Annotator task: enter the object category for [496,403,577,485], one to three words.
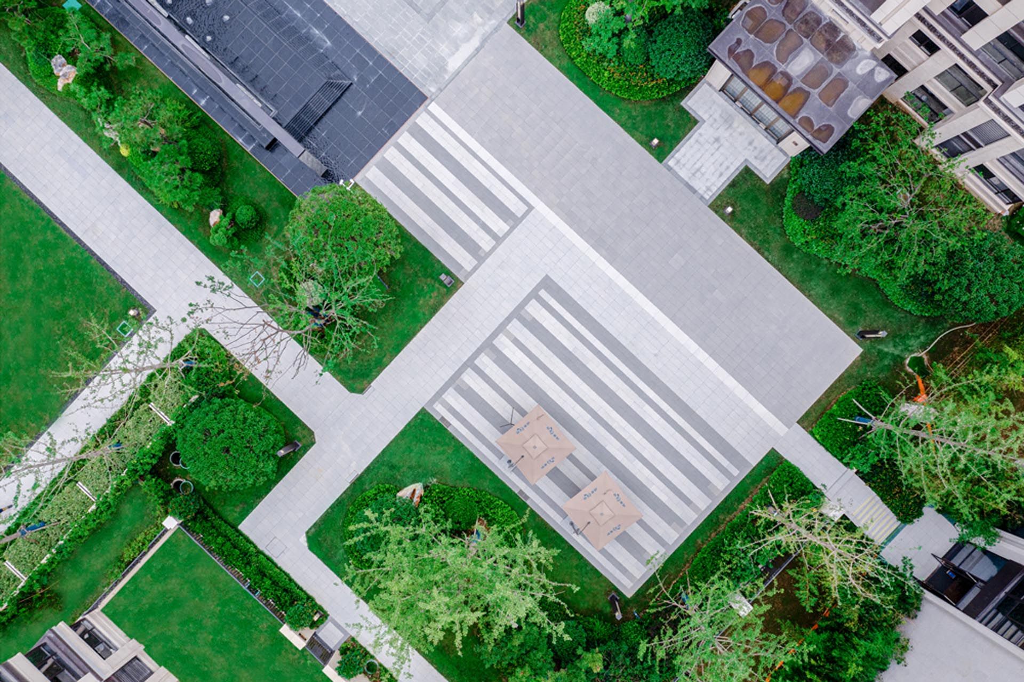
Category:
umbrella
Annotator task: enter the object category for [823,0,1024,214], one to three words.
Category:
building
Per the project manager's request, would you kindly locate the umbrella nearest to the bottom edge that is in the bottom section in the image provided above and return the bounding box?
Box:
[562,470,643,551]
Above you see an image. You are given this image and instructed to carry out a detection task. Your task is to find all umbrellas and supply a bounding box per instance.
[562,470,643,551]
[496,403,577,485]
